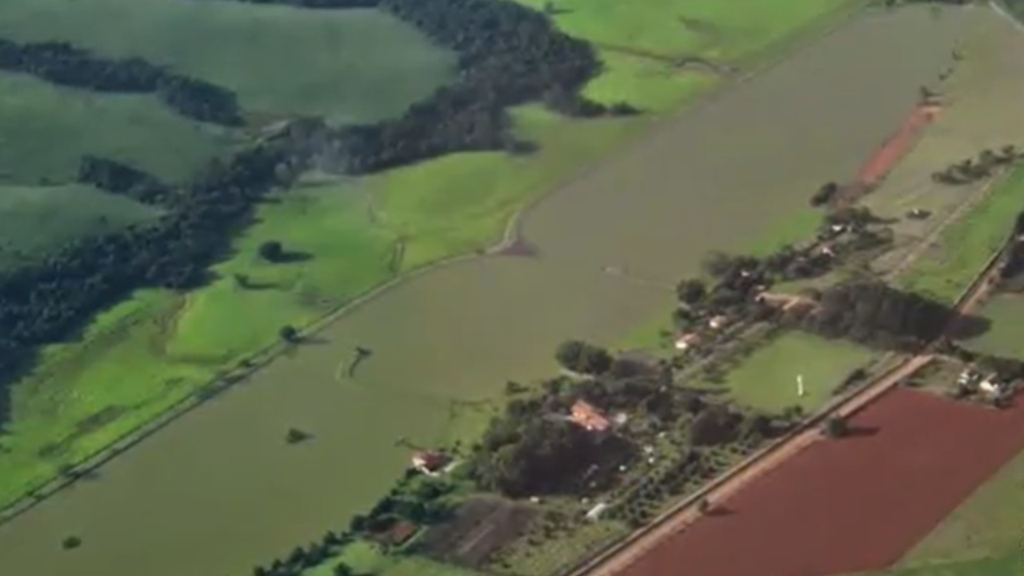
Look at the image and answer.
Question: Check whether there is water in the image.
Yes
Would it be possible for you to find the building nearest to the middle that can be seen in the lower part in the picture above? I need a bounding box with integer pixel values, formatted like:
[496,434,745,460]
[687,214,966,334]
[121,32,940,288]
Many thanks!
[568,400,614,434]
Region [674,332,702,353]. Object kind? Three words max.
house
